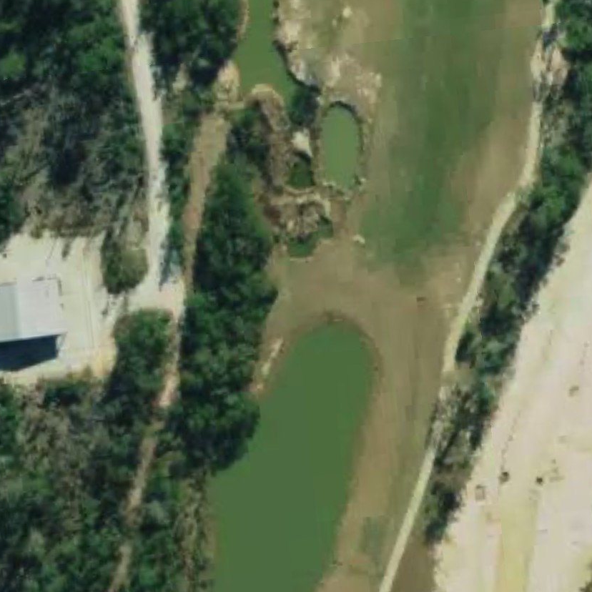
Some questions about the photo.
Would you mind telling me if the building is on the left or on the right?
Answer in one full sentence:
You can find the building on the left side of the picture.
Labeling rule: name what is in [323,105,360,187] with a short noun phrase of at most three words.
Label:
pond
